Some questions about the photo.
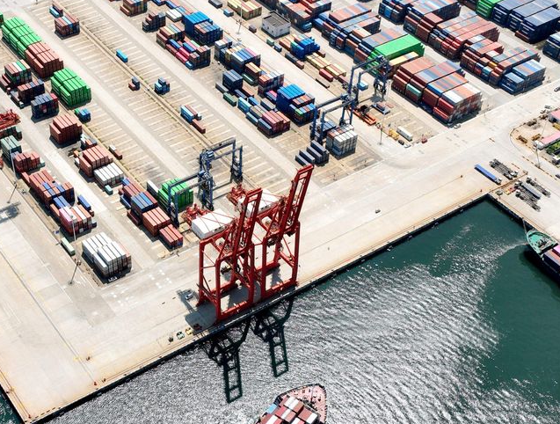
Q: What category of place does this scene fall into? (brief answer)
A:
port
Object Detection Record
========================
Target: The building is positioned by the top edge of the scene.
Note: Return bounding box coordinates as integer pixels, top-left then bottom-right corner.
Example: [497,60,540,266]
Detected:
[260,11,291,37]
